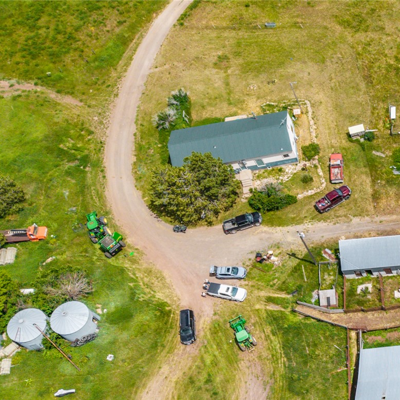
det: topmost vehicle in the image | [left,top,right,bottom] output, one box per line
[327,154,344,184]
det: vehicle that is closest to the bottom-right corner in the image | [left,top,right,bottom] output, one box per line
[223,308,259,352]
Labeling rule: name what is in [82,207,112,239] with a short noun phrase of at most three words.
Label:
work vehicle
